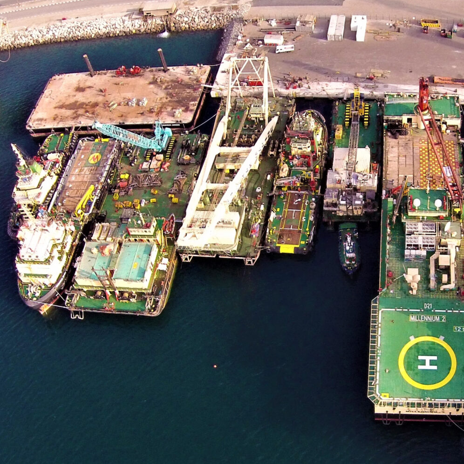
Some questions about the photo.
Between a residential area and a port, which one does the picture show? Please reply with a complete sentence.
The picture captures a port.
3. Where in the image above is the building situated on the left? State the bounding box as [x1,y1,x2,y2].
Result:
[143,1,177,34]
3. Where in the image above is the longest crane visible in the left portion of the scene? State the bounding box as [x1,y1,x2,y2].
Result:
[96,121,180,161]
